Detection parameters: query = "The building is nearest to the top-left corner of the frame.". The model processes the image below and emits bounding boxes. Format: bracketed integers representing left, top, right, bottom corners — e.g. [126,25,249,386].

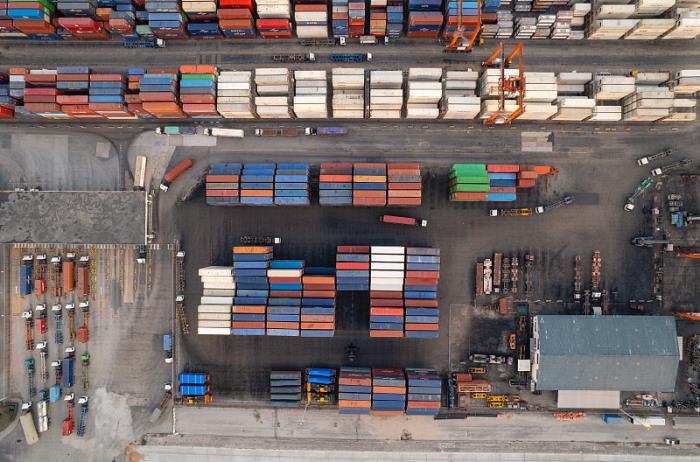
[0,188,147,247]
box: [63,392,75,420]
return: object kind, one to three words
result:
vehicle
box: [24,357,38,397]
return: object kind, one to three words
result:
vehicle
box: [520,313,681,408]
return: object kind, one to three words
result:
building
